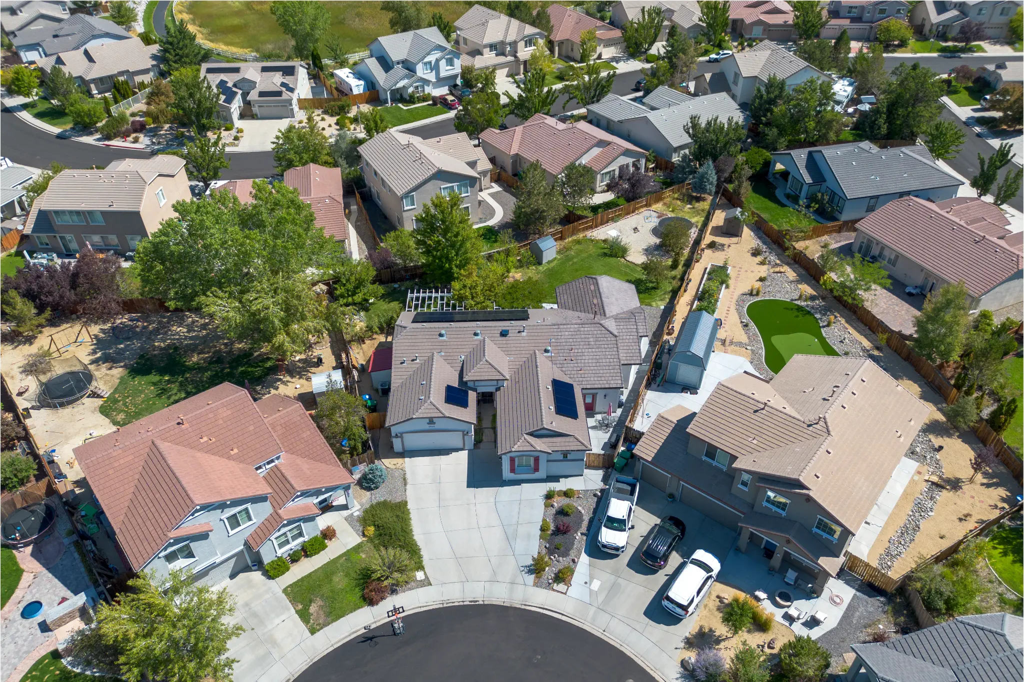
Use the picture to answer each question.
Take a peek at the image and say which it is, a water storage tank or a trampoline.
trampoline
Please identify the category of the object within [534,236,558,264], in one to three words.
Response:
shed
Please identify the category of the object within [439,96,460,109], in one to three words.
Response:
vehicle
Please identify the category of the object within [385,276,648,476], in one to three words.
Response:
house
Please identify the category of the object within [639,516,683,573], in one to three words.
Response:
car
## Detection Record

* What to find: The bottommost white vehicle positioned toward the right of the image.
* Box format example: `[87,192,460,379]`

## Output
[662,552,716,621]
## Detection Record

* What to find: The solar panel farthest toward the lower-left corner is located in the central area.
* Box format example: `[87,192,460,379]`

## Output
[446,384,469,405]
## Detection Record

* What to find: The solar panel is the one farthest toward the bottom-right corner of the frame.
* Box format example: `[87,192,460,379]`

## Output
[553,378,578,418]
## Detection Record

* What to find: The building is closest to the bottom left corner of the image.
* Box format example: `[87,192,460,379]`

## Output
[72,380,356,596]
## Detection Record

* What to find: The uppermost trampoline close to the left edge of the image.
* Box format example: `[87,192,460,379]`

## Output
[26,351,101,410]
